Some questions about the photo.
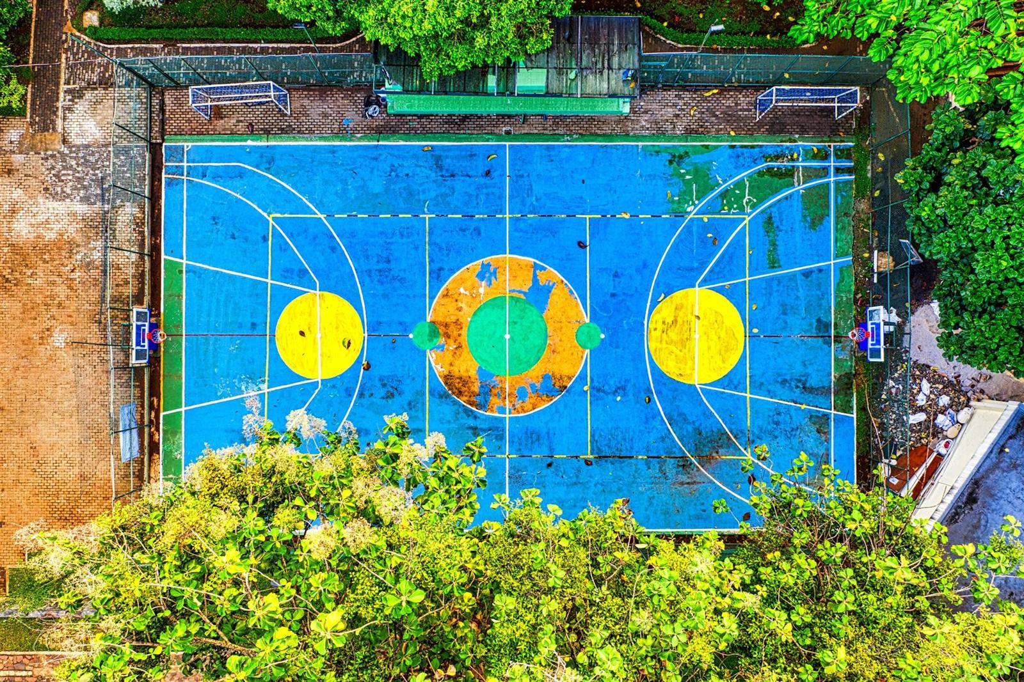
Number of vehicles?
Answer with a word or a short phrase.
0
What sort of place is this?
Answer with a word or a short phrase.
sports ground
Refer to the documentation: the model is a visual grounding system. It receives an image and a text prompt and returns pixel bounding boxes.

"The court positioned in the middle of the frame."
[159,133,857,534]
